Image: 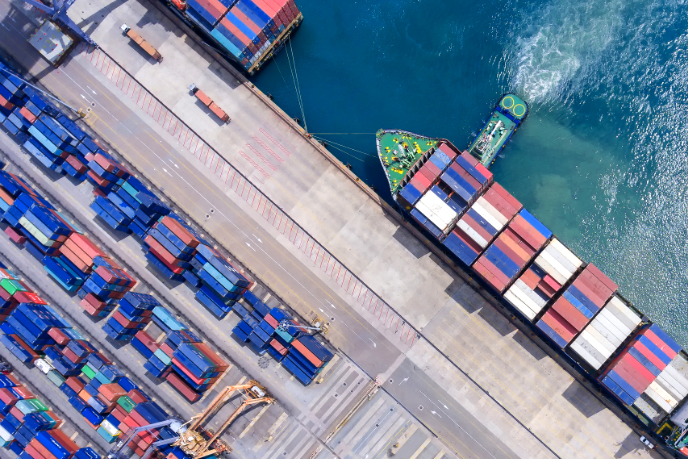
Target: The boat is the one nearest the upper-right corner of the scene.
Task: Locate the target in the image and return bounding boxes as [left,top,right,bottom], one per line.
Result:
[466,94,529,174]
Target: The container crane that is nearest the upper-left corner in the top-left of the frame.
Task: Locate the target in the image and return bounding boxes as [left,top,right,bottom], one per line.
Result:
[32,0,104,52]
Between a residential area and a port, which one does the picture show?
port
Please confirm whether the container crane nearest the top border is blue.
Yes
